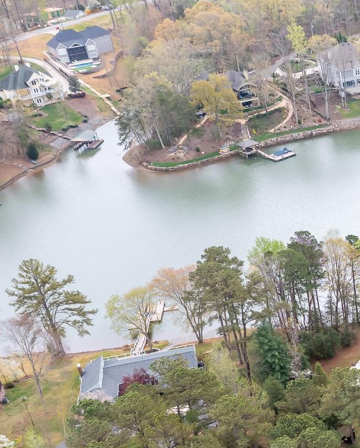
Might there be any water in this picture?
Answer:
Yes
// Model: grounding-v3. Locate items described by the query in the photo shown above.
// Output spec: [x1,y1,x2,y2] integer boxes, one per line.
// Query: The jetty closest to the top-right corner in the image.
[238,138,296,162]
